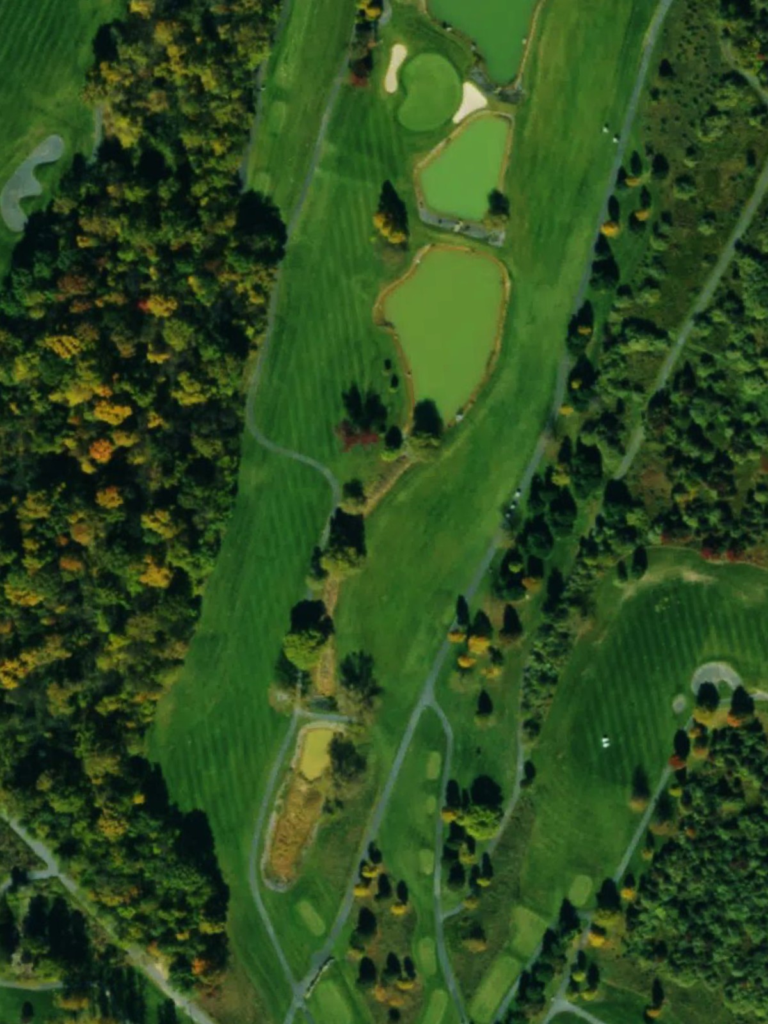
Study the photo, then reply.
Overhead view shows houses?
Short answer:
No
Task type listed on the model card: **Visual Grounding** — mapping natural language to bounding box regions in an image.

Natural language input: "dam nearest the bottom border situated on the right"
[415,208,507,248]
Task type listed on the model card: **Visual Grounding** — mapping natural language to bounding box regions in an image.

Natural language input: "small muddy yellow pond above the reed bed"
[294,722,344,785]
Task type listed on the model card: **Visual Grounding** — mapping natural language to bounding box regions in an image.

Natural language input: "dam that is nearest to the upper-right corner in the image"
[471,65,525,103]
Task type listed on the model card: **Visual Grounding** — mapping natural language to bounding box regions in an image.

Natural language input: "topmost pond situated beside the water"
[422,0,545,89]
